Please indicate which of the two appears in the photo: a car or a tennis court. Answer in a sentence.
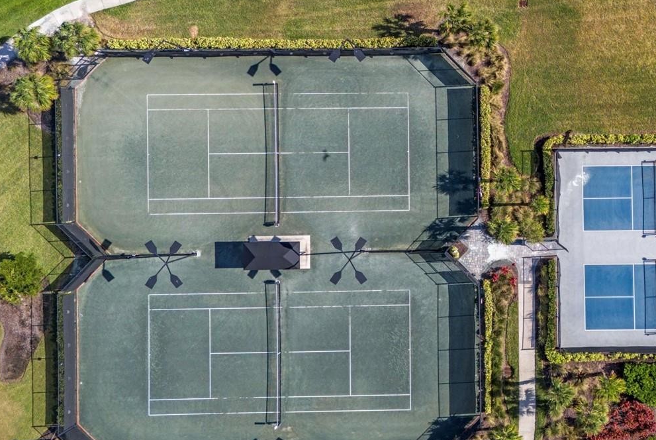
Looking from above, you can make out a tennis court.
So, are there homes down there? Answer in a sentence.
No, there is no home in the image.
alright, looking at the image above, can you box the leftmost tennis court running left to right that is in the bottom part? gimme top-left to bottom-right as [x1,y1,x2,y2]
[79,253,482,440]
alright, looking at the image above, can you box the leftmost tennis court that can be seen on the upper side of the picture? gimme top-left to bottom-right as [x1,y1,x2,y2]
[77,52,481,256]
